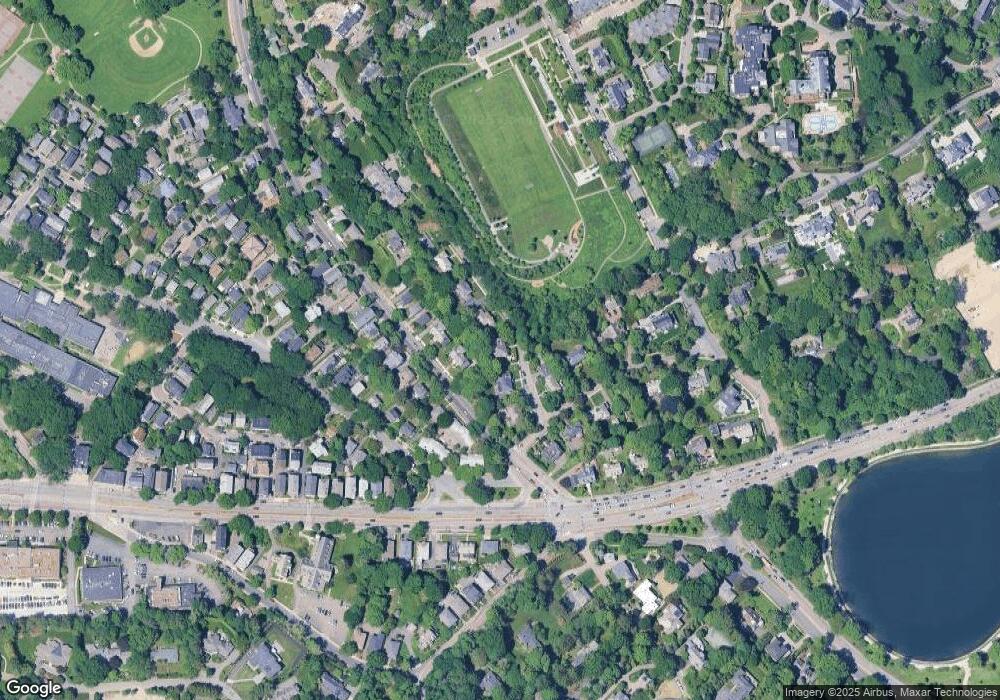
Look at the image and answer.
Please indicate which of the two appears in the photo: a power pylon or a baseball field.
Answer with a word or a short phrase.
baseball field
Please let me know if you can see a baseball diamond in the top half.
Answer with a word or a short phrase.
Yes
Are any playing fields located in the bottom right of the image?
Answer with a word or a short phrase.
No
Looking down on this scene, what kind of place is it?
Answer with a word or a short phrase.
residential area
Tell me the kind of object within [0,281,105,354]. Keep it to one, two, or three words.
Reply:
building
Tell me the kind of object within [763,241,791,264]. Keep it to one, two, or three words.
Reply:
house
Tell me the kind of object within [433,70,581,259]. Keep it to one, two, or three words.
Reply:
sports field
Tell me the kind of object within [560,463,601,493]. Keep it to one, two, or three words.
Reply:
house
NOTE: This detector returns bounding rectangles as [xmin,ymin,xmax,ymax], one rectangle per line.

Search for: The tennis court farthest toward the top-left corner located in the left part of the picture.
[0,12,25,57]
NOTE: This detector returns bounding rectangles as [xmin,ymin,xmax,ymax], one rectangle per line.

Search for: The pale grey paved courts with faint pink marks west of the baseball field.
[0,56,42,123]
